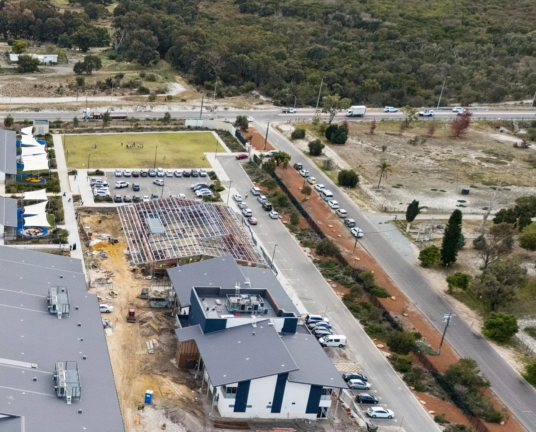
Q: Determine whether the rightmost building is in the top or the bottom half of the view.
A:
bottom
